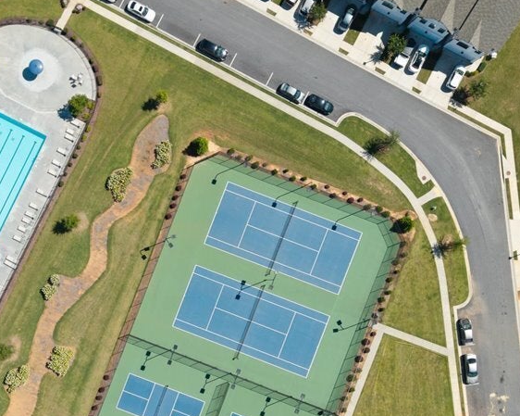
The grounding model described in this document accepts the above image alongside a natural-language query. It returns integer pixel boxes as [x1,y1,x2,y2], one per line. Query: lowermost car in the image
[462,353,478,383]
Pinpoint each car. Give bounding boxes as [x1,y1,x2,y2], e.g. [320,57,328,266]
[337,3,358,34]
[445,62,467,92]
[457,316,473,346]
[299,0,317,17]
[462,353,478,383]
[126,1,155,23]
[407,43,430,74]
[284,0,299,10]
[196,39,227,62]
[303,93,333,116]
[276,81,305,104]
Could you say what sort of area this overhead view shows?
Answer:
sports ground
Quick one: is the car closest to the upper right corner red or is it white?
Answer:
white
